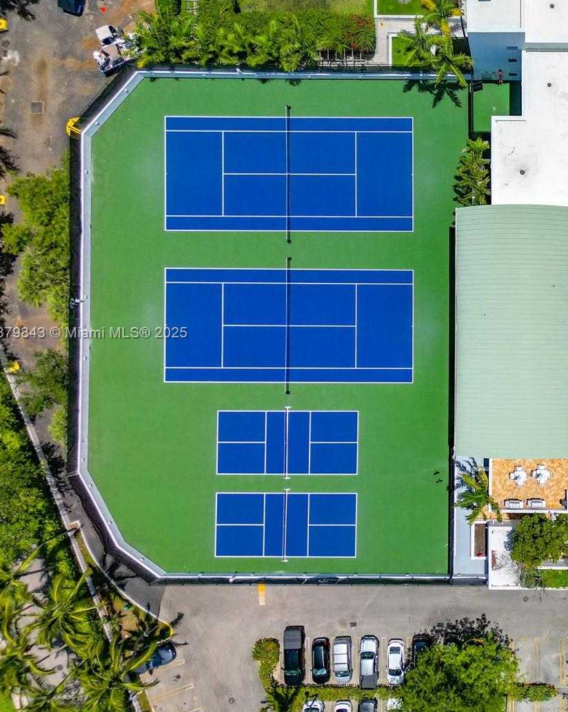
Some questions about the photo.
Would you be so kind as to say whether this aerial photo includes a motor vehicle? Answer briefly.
Yes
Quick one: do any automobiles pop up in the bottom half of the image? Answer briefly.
Yes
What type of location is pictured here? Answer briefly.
sports ground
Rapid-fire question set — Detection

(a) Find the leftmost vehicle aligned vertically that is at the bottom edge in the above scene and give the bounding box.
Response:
[280,624,306,686]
